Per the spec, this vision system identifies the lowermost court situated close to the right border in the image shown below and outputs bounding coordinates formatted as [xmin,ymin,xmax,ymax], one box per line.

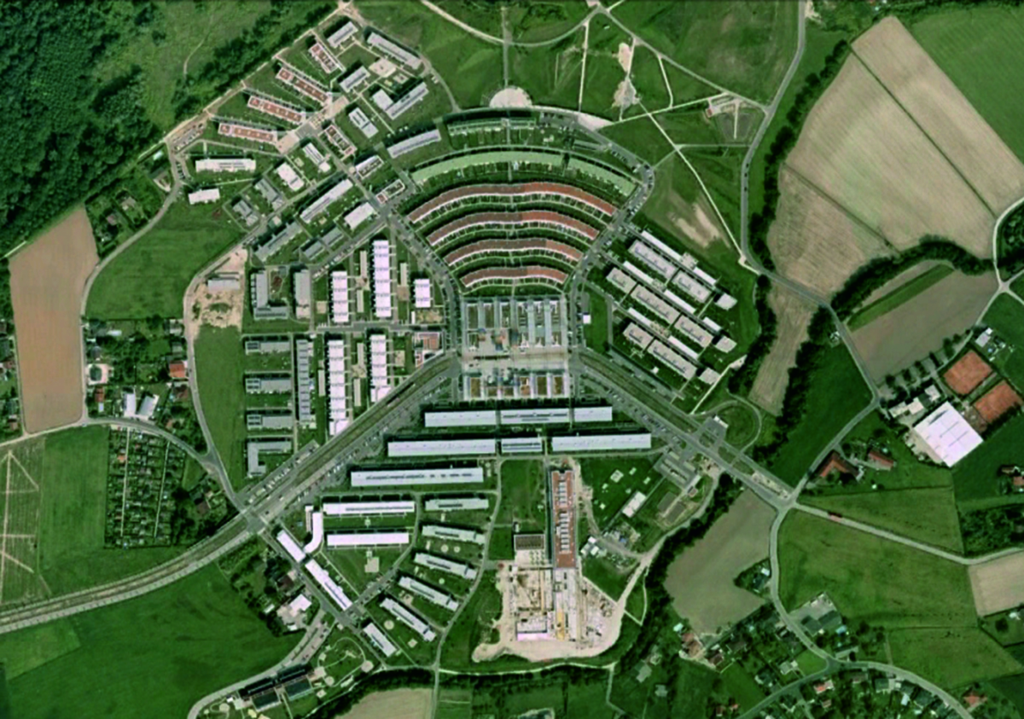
[975,380,1022,423]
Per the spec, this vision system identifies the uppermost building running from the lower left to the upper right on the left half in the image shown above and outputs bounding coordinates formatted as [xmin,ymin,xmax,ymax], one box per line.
[327,21,359,48]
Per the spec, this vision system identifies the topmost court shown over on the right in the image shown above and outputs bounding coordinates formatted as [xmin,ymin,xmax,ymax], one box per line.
[944,351,992,394]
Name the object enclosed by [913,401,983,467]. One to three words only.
building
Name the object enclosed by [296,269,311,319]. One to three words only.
building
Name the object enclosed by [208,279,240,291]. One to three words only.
shed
